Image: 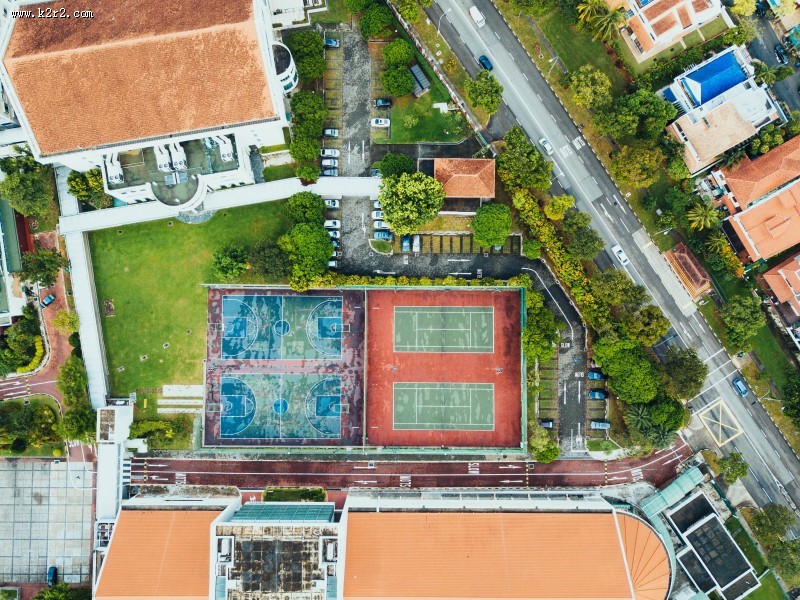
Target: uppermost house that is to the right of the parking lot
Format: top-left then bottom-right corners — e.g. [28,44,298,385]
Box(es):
[599,0,721,57]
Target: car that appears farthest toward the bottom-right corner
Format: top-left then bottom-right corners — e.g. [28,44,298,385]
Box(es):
[730,376,748,396]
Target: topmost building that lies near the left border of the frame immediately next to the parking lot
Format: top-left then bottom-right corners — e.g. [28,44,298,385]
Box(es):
[0,0,288,170]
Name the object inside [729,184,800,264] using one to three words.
house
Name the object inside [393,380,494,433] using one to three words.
tennis court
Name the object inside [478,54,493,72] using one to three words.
car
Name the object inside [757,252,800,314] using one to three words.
house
